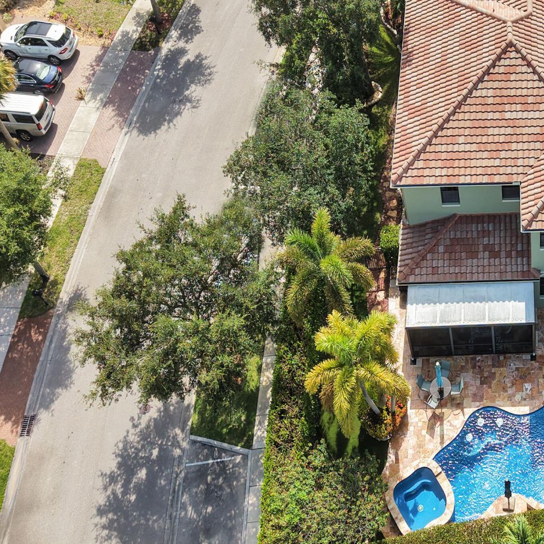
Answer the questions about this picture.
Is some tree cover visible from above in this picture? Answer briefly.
Yes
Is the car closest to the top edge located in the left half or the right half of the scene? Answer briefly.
left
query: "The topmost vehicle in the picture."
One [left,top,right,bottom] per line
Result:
[0,19,80,62]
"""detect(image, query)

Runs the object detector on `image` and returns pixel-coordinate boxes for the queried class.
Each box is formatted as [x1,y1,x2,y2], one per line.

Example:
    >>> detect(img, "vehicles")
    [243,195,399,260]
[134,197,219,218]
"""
[0,92,54,141]
[0,19,80,62]
[1,54,62,95]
